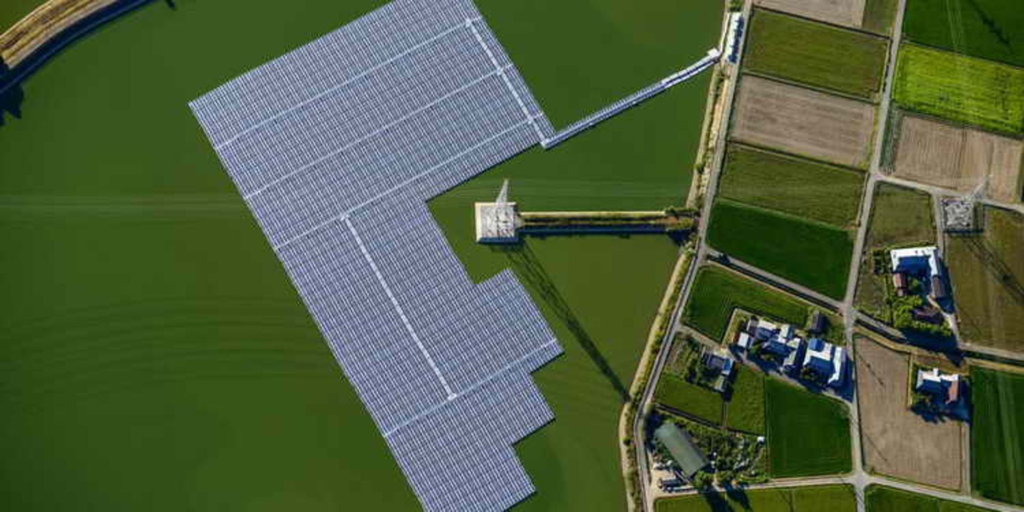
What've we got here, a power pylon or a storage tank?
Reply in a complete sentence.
Visible in the photo is a power pylon.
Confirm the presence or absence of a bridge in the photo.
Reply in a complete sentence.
Yes, a bridge can be made out from above.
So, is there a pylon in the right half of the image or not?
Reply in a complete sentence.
Yes, a pylon appears in the right half of the image.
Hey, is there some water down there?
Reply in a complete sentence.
Yes, there is water in the image.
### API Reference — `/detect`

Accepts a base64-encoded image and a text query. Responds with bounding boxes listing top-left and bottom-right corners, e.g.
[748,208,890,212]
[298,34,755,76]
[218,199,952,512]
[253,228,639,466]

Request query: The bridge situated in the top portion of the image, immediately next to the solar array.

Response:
[545,49,719,146]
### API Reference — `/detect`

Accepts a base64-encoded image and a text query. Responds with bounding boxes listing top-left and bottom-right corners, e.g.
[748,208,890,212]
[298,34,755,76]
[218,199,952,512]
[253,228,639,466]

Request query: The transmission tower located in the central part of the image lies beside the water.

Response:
[479,179,516,239]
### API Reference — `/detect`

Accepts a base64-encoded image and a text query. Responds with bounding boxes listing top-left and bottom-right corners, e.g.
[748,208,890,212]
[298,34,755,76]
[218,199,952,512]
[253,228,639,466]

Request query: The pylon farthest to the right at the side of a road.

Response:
[941,178,993,232]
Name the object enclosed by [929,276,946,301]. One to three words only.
barn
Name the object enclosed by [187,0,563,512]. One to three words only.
solar array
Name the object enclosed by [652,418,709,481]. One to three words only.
shed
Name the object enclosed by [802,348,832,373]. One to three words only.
house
